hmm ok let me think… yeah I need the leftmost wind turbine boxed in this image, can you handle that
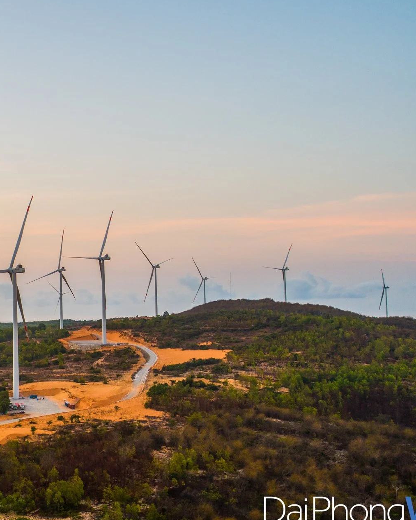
[0,198,31,400]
